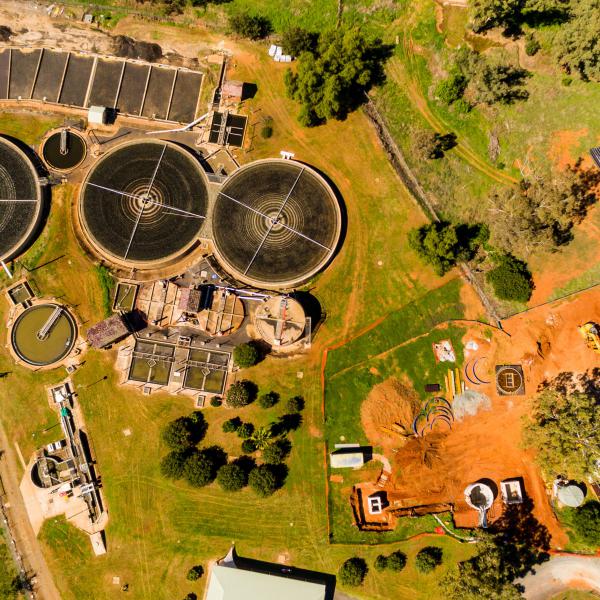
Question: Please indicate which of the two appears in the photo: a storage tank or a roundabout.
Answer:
storage tank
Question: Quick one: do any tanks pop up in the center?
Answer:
Yes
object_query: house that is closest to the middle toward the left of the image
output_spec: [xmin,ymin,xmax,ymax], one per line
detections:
[179,287,202,312]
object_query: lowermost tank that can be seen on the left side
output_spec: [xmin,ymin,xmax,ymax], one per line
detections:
[32,457,62,487]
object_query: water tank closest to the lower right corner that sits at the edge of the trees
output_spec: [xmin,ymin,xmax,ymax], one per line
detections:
[555,480,585,509]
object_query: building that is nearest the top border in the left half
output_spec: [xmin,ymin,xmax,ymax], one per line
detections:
[221,80,243,101]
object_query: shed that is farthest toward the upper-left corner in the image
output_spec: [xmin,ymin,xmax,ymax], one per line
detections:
[88,105,107,125]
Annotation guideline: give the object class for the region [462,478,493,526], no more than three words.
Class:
storage tank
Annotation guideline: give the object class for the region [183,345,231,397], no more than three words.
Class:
storage tank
